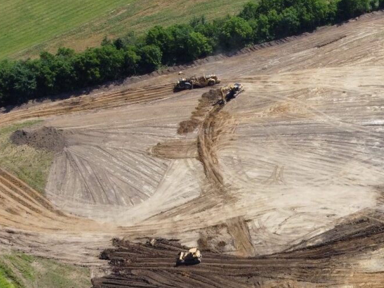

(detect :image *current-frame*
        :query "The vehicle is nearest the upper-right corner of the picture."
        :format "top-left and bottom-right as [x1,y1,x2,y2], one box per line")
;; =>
[213,81,246,100]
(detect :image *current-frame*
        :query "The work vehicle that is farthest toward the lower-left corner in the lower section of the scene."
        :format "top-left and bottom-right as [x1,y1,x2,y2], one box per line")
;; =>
[175,246,200,265]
